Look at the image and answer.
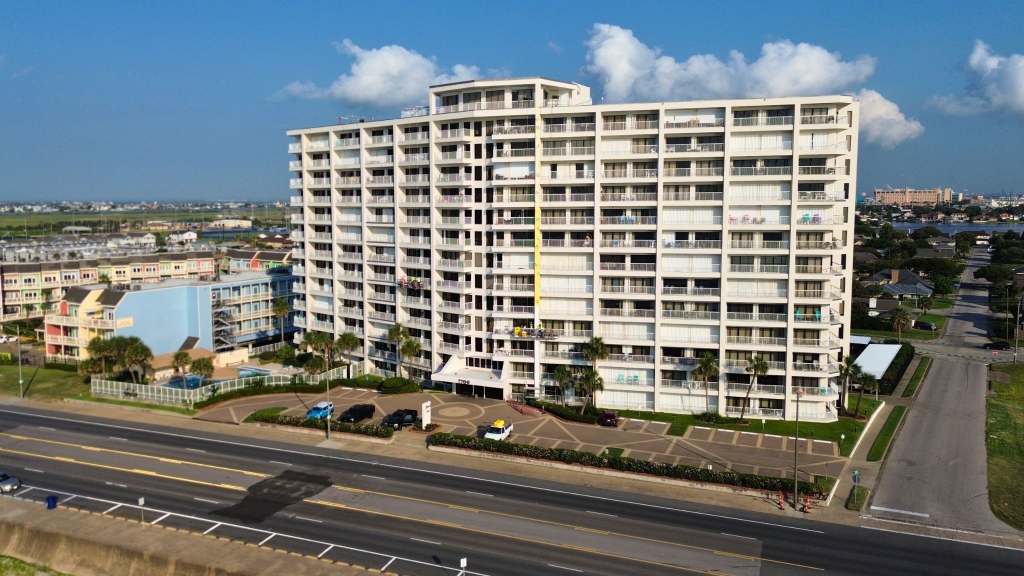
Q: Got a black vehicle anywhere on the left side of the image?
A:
Yes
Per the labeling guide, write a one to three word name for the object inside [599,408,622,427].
car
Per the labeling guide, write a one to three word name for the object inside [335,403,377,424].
truck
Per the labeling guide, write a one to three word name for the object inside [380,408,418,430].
truck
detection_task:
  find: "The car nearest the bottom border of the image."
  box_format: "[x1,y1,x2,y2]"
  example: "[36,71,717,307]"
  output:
[0,469,23,491]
